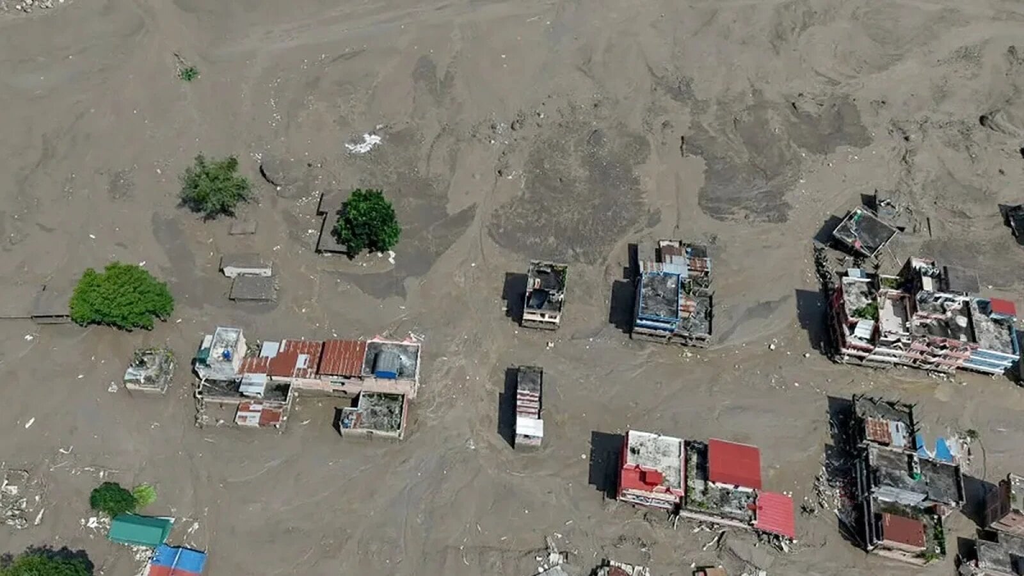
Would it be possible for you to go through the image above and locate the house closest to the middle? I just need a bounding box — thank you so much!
[521,262,565,328]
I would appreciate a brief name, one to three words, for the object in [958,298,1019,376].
house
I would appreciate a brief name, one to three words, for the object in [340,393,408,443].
house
